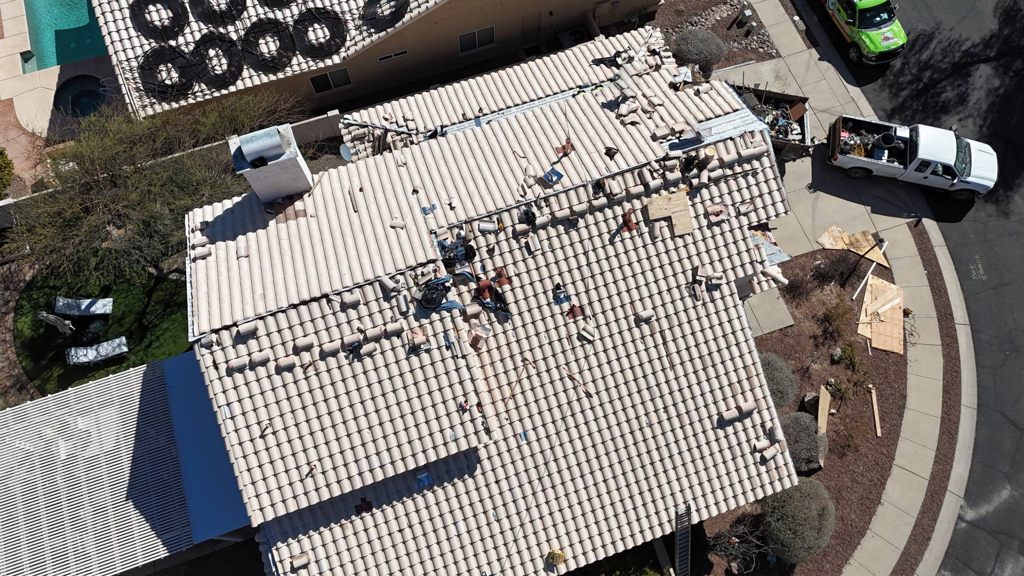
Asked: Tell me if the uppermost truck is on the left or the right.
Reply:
right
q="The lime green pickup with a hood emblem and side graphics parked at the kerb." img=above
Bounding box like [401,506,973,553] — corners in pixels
[818,0,917,71]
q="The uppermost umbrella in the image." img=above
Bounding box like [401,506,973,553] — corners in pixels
[39,313,100,346]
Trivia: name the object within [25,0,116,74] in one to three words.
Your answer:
swimming pool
